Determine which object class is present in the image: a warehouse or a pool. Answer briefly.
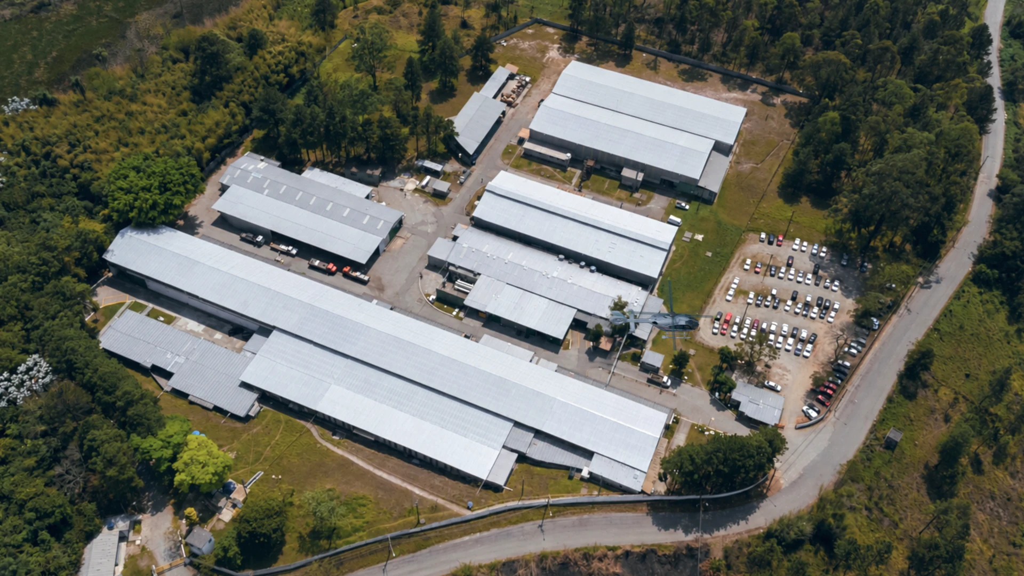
warehouse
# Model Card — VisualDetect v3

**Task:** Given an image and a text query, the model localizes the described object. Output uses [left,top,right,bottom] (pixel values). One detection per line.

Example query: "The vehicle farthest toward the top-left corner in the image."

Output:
[240,233,267,247]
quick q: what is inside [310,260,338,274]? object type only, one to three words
vehicle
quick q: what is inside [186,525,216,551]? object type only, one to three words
shed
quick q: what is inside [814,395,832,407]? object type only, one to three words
vehicle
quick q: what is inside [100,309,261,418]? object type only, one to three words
building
